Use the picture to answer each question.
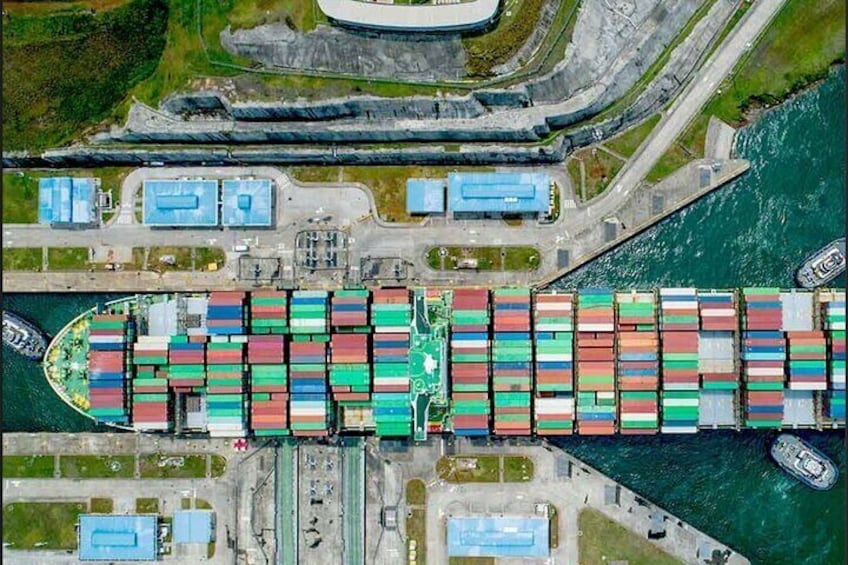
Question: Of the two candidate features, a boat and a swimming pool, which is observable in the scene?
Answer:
boat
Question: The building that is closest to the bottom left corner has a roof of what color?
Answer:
blue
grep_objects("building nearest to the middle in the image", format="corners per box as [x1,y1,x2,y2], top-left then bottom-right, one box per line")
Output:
[407,179,445,213]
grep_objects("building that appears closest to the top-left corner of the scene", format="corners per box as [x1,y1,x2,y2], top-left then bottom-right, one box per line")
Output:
[37,177,113,230]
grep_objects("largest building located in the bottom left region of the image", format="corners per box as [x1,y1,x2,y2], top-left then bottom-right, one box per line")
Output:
[77,513,163,560]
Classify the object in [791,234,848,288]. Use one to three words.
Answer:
boat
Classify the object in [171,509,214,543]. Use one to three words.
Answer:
building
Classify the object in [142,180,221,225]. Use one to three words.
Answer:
building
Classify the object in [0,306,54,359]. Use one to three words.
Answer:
boat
